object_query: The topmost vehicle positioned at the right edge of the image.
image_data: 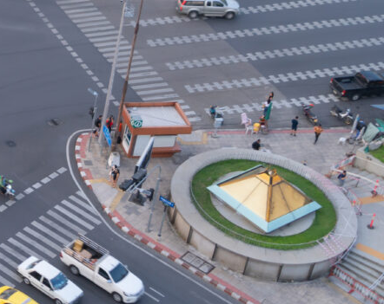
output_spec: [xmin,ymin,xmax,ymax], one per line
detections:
[330,66,384,99]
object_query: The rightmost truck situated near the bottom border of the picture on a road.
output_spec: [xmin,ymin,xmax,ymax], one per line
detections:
[62,232,145,301]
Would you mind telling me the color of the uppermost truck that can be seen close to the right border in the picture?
black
